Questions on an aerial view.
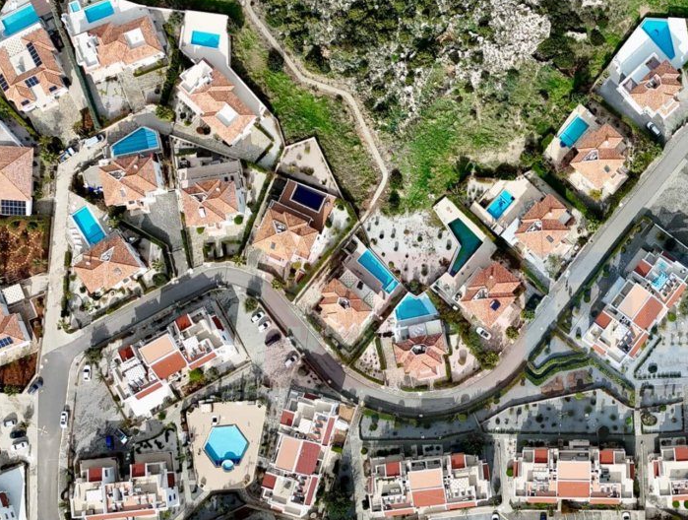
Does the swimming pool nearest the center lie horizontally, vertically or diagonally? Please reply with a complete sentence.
I'd say the swimming pool nearest the center is aligned diagonally in the picture.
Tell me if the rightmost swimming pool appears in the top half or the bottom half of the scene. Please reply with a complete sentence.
You can find the rightmost swimming pool in the top half.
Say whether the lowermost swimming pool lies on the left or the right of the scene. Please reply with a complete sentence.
The lowermost swimming pool sits on the left side.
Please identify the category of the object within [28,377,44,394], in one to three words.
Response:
car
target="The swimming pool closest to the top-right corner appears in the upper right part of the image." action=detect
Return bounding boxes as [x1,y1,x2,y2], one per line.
[613,17,688,75]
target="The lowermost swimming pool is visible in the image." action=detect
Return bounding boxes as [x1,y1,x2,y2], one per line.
[187,400,266,491]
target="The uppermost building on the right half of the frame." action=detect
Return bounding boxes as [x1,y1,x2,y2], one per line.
[618,48,686,123]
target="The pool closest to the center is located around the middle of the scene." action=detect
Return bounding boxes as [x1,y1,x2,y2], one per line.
[342,235,404,299]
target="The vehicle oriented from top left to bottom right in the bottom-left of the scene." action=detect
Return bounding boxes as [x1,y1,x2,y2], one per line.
[112,428,132,448]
